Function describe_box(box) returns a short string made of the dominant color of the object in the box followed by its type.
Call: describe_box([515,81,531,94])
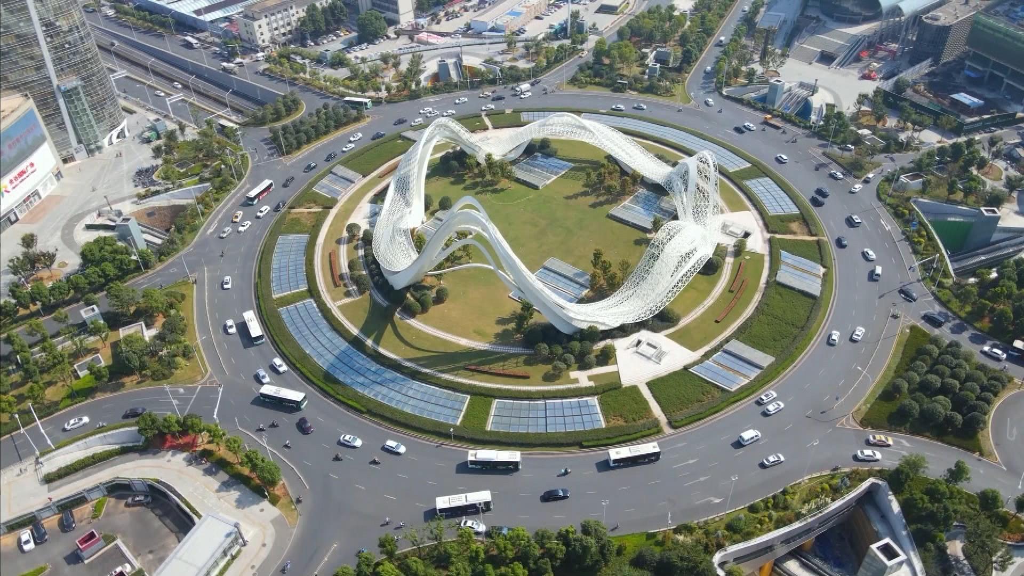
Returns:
white vehicle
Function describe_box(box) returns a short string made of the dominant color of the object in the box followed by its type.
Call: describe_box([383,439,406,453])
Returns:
white car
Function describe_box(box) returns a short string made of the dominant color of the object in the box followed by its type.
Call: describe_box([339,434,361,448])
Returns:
white car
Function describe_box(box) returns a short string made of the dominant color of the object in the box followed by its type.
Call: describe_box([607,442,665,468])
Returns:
white bus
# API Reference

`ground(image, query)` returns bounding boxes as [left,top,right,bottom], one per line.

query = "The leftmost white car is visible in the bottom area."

[20,529,35,550]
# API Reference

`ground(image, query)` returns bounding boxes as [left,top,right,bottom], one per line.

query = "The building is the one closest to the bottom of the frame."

[158,513,246,576]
